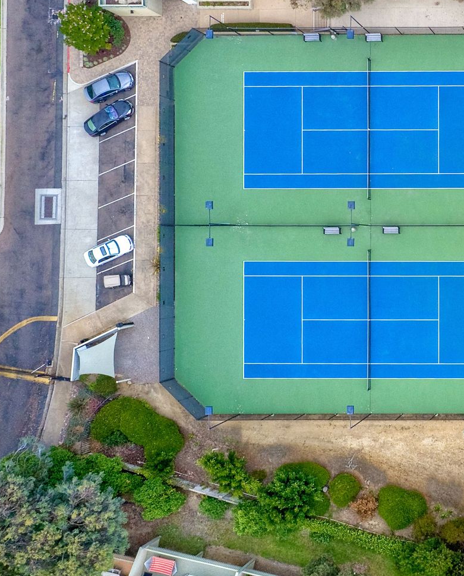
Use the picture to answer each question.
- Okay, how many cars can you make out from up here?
3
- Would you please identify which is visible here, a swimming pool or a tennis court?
tennis court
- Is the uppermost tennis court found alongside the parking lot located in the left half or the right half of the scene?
right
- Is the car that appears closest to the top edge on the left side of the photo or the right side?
left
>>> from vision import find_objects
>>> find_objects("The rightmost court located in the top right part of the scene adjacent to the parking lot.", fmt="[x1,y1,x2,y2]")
[243,71,464,188]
